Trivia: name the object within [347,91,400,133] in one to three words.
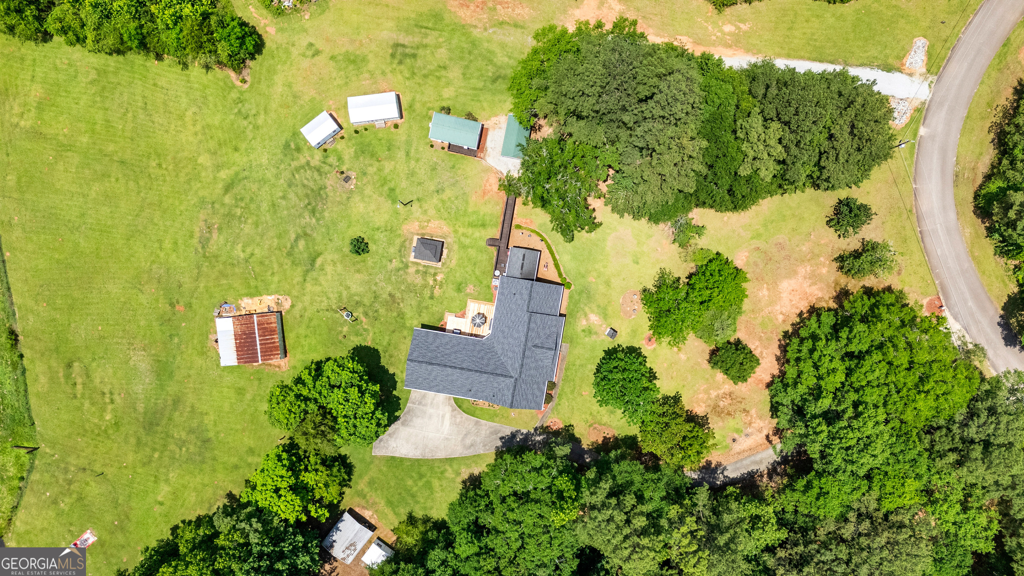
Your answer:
shed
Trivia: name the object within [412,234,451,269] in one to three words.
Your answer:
gazebo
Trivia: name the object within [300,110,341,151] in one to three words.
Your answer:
shed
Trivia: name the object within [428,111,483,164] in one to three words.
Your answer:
house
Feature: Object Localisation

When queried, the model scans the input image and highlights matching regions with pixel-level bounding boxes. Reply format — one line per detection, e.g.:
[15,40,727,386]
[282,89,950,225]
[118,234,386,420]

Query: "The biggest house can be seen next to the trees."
[404,246,566,411]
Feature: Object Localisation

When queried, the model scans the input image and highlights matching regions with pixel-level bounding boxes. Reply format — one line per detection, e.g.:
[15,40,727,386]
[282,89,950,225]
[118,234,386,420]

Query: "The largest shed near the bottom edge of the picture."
[321,508,374,565]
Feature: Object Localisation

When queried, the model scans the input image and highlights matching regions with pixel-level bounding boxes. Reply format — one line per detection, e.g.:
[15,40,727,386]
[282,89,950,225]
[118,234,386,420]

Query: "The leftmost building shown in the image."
[216,313,288,366]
